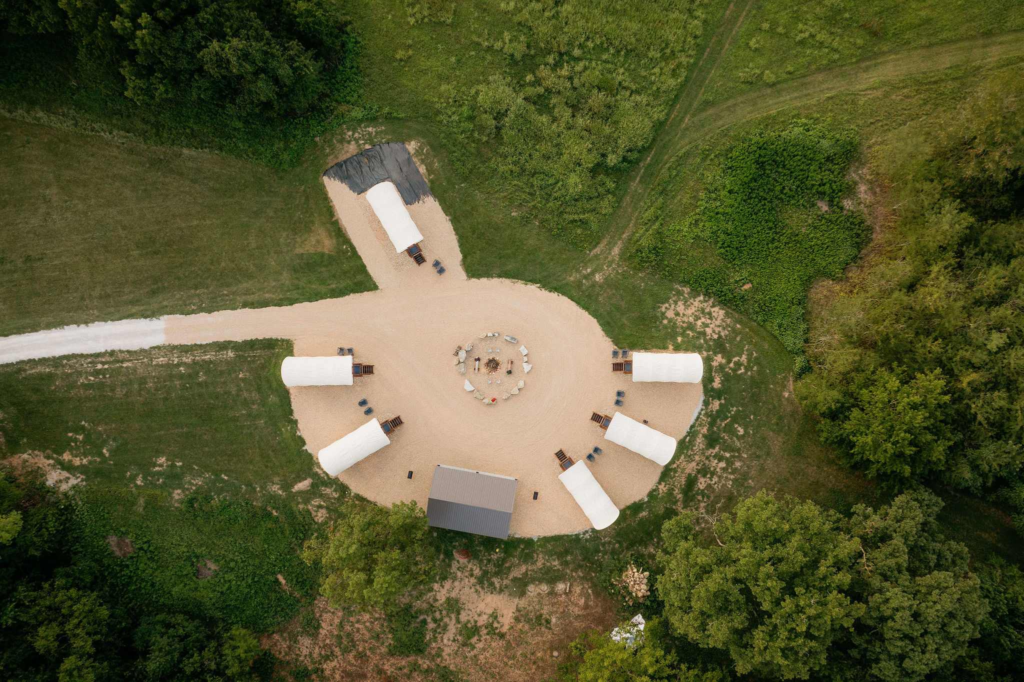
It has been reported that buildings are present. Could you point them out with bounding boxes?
[425,463,517,539]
